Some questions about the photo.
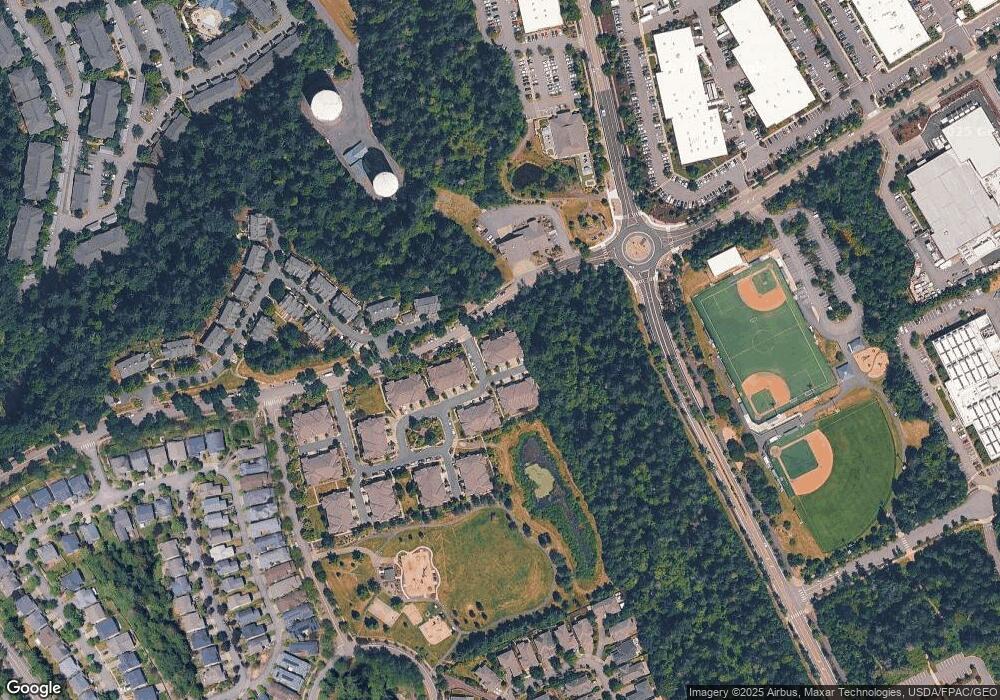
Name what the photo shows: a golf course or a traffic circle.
traffic circle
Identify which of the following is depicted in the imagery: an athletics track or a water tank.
water tank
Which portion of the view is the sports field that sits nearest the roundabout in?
right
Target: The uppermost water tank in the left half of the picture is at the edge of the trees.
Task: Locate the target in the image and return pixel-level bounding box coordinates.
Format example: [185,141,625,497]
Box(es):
[310,89,343,121]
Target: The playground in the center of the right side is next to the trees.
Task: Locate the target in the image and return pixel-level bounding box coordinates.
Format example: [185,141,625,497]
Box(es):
[854,347,889,378]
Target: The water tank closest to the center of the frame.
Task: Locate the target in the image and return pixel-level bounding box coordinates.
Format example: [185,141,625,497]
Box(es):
[372,171,399,197]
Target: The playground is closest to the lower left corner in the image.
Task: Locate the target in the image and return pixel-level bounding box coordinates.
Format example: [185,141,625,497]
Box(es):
[397,547,440,599]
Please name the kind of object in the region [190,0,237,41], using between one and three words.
swimming pool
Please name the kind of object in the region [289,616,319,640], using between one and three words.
house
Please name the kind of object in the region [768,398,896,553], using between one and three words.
baseball field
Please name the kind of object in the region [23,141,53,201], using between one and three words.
building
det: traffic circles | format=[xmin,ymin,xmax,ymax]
[611,221,666,275]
